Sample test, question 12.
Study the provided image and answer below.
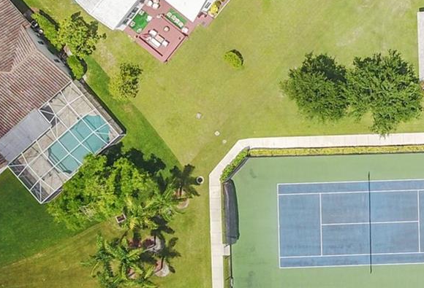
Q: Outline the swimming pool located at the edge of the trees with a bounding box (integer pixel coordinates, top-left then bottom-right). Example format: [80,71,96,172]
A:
[47,113,109,171]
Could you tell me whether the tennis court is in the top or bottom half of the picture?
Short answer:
bottom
